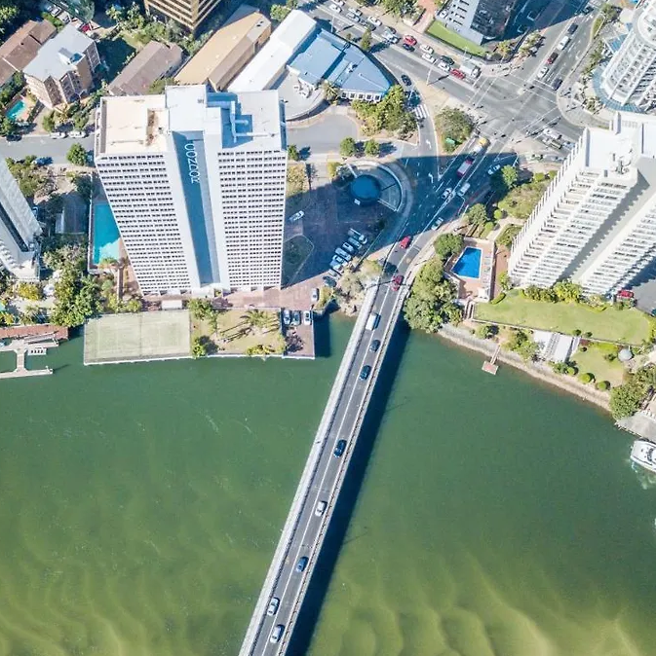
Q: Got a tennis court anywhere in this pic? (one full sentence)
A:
Yes, the photo shows a tennis court.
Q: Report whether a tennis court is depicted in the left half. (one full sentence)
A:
Yes, a tennis court appears in the left half.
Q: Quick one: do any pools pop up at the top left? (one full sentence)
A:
Yes, you'll find a pool at the top left.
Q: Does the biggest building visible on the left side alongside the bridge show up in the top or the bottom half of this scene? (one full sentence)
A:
It is in the top half that the biggest building visible on the left side alongside the bridge appears.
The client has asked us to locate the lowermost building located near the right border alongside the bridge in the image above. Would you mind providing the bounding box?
[510,113,656,301]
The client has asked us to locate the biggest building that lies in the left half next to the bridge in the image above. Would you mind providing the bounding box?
[93,83,290,300]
